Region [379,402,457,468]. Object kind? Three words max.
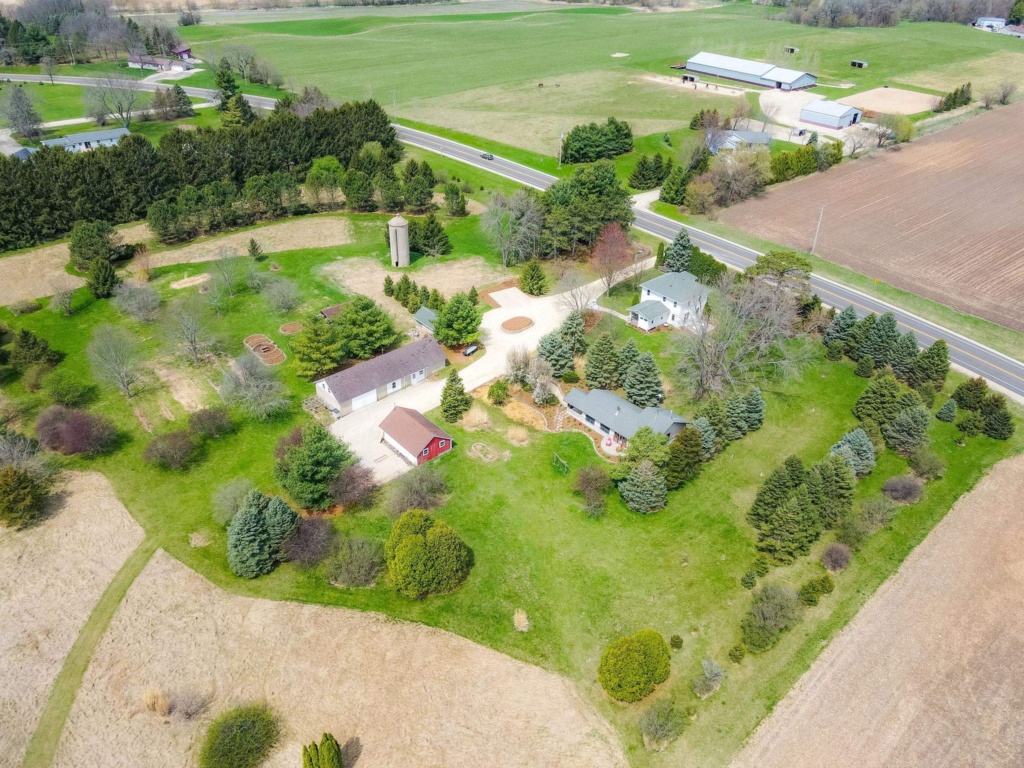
building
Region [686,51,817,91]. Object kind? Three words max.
barn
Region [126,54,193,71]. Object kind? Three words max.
house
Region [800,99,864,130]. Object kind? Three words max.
shed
